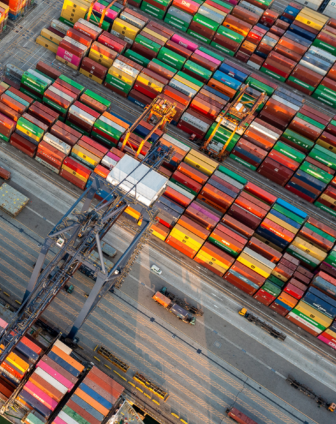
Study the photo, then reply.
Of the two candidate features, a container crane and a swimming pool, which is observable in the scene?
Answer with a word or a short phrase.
container crane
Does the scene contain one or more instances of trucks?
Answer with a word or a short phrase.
Yes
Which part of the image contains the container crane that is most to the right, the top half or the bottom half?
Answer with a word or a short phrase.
top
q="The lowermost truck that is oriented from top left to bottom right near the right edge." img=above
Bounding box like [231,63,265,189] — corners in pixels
[288,376,335,410]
